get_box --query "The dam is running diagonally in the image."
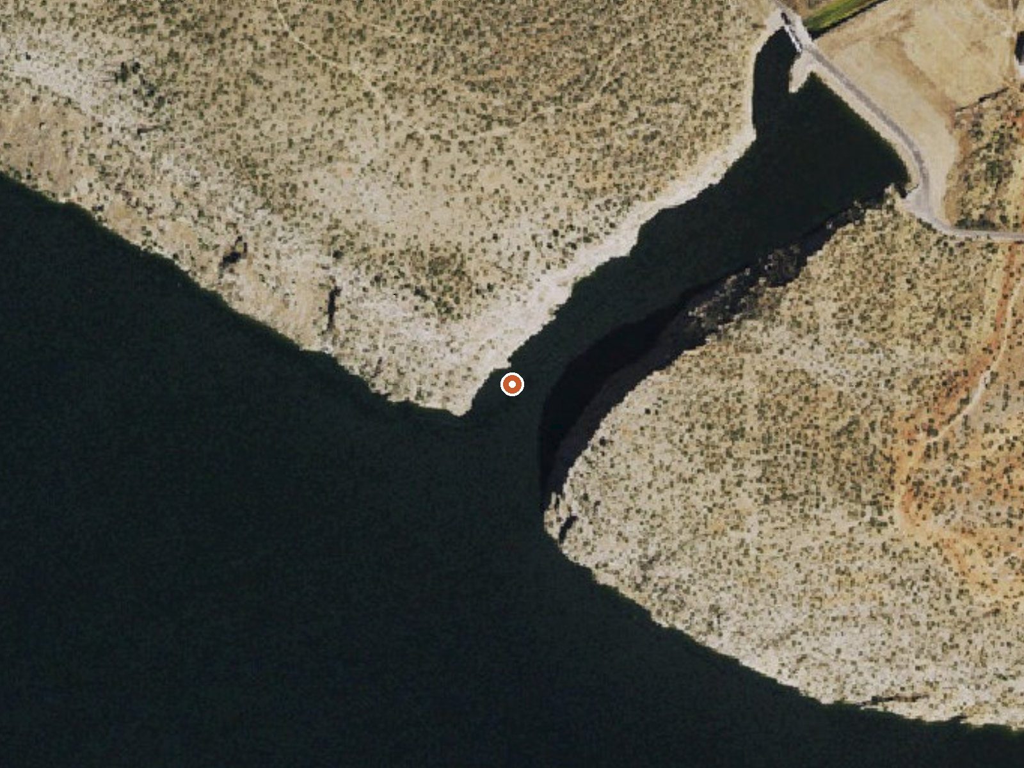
[795,24,946,213]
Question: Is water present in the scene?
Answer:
Yes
